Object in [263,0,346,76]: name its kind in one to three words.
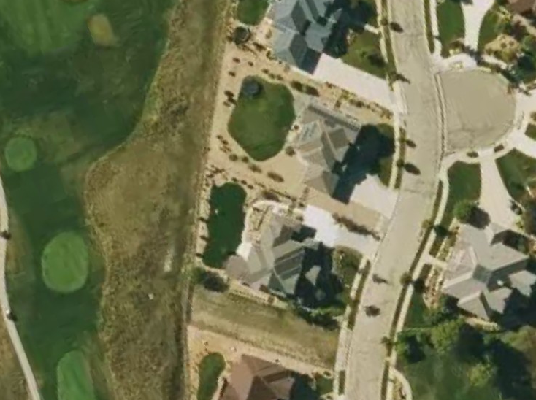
house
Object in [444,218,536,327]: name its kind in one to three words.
house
